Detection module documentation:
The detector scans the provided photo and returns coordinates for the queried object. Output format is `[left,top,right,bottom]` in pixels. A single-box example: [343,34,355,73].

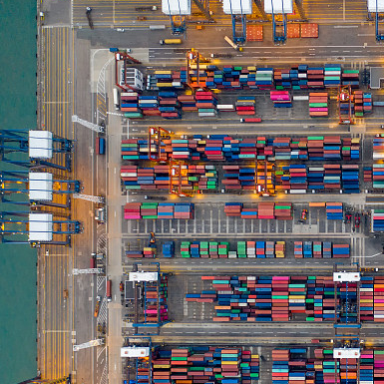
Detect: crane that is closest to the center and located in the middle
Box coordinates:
[166,155,192,197]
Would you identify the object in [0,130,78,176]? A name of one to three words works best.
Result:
container crane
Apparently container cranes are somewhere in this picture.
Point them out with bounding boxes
[130,263,175,336]
[119,340,165,384]
[332,263,363,336]
[148,122,175,164]
[184,47,209,92]
[163,0,217,34]
[265,0,308,34]
[166,155,192,197]
[0,130,78,176]
[225,0,272,34]
[332,340,363,384]
[336,80,354,124]
[0,213,78,251]
[0,172,78,212]
[252,155,275,197]
[363,0,384,34]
